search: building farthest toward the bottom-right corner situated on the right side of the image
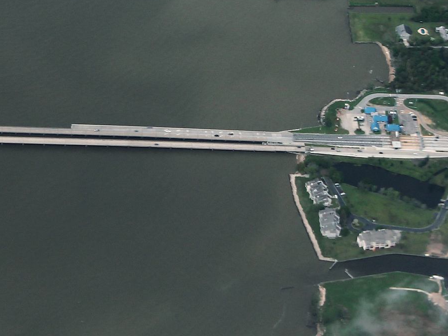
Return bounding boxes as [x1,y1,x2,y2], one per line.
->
[357,229,401,248]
